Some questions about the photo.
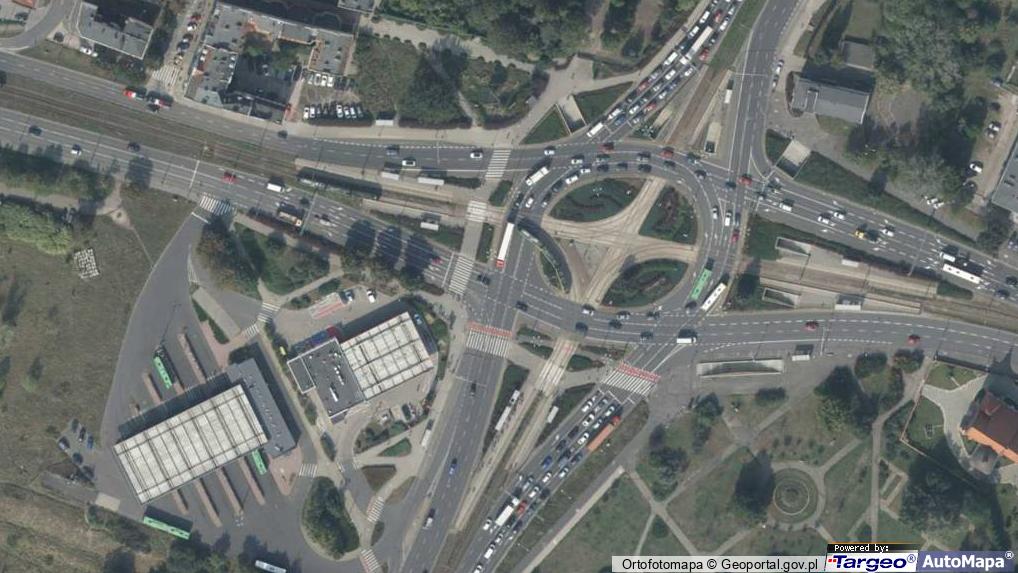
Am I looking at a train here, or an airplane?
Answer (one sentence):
I can see a train in this picture.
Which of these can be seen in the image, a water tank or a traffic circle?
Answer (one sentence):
This aerial view contains a traffic circle.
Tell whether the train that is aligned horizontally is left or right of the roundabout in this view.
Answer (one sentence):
You can see the train that is aligned horizontally positioned to the left of the roundabout.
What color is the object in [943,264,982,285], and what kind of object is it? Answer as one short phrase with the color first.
white bus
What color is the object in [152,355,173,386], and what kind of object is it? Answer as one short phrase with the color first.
green bus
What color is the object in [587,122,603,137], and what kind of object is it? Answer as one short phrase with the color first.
white vehicle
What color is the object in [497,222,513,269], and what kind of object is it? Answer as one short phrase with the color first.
white vehicle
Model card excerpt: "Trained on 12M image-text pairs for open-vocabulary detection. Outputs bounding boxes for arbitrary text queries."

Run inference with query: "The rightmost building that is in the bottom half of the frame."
[970,390,1018,469]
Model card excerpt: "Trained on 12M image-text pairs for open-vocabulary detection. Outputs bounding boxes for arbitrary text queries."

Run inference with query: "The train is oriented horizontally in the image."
[297,176,372,199]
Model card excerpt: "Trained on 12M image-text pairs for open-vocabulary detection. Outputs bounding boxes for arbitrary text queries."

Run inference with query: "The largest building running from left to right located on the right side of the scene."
[793,75,871,123]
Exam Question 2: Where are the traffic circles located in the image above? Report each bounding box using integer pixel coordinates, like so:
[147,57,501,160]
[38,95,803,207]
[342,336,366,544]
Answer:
[502,146,741,341]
